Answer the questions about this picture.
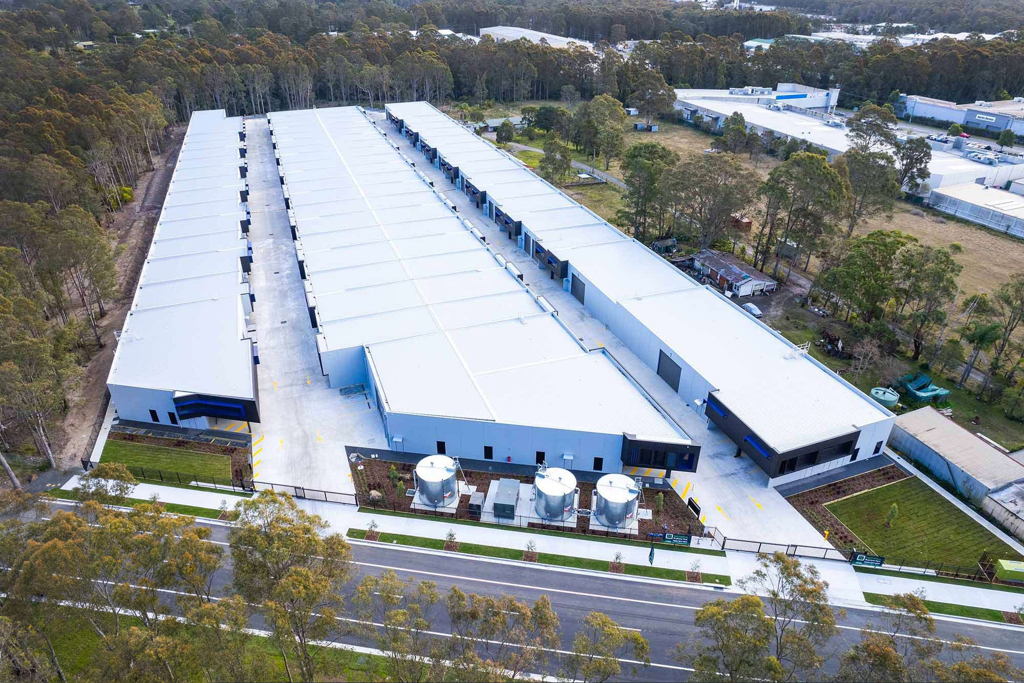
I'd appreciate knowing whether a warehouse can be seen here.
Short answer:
Yes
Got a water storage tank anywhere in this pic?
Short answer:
Yes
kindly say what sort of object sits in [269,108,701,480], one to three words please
warehouse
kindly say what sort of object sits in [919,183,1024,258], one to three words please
shed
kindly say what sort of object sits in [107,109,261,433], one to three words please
warehouse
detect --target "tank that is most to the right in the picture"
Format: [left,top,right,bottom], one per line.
[869,378,898,406]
